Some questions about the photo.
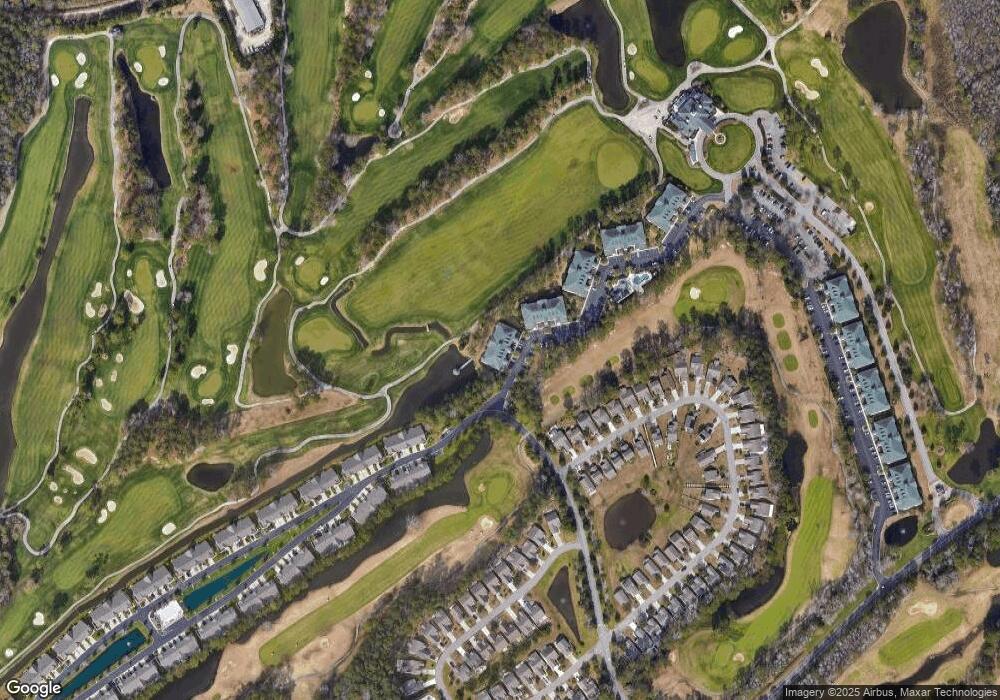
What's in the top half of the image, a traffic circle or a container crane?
traffic circle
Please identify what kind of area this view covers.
golf course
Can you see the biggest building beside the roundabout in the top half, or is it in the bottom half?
top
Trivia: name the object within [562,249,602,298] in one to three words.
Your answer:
building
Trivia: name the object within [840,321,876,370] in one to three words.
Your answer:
building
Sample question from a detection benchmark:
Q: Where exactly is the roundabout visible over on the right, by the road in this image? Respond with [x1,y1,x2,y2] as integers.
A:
[696,109,766,179]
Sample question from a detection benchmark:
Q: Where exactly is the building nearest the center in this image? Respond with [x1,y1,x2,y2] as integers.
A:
[479,322,521,372]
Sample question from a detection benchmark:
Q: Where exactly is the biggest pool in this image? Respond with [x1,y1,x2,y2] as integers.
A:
[628,272,652,295]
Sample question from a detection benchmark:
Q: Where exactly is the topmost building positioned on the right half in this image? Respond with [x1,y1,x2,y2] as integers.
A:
[670,85,724,143]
